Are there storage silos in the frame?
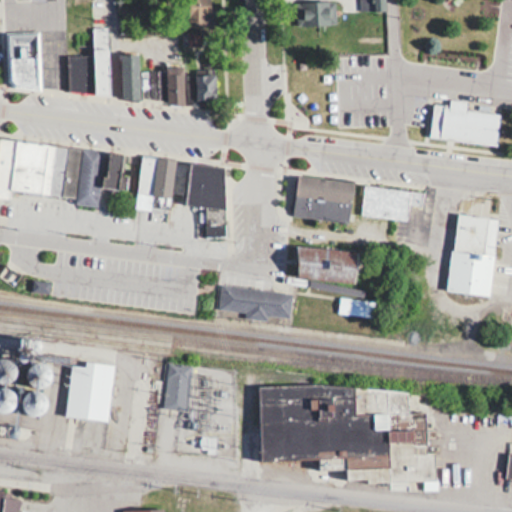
Yes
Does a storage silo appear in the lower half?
Yes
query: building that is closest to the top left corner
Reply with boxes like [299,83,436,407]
[7,32,42,90]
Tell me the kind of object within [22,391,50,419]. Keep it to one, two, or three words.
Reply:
silo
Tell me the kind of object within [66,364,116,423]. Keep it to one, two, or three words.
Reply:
building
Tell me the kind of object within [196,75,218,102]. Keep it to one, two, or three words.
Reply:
house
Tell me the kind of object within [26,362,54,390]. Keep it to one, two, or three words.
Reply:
silo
